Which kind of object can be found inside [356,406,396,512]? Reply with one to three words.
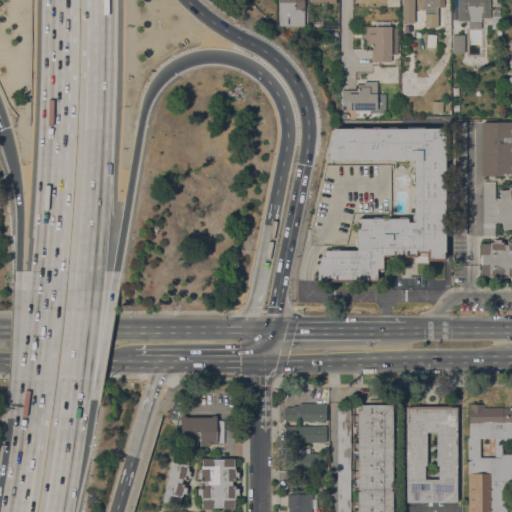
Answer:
building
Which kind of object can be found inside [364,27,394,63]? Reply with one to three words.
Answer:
house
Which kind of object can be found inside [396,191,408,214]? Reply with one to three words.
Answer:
swimming pool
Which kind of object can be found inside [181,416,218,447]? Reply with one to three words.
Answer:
house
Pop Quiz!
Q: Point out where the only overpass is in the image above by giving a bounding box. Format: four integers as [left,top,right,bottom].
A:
[6,272,122,418]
